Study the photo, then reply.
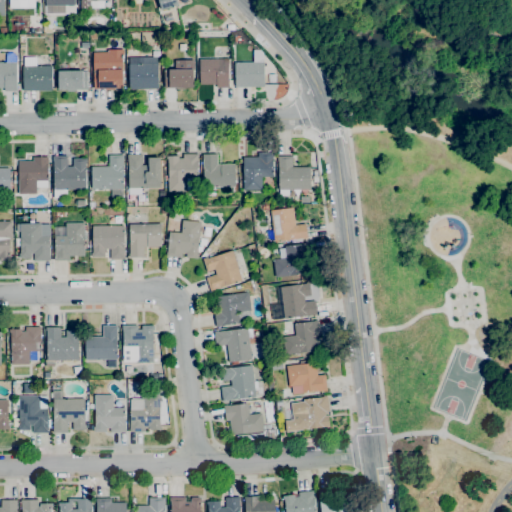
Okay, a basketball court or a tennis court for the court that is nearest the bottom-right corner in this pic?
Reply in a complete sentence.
Specifically, the court that is nearest the bottom-right corner is a basketball court.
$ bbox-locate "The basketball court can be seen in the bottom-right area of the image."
[430,346,488,422]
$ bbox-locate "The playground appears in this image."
[424,215,470,260]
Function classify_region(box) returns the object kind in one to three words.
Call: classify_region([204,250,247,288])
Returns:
house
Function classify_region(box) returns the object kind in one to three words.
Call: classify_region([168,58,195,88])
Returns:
house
